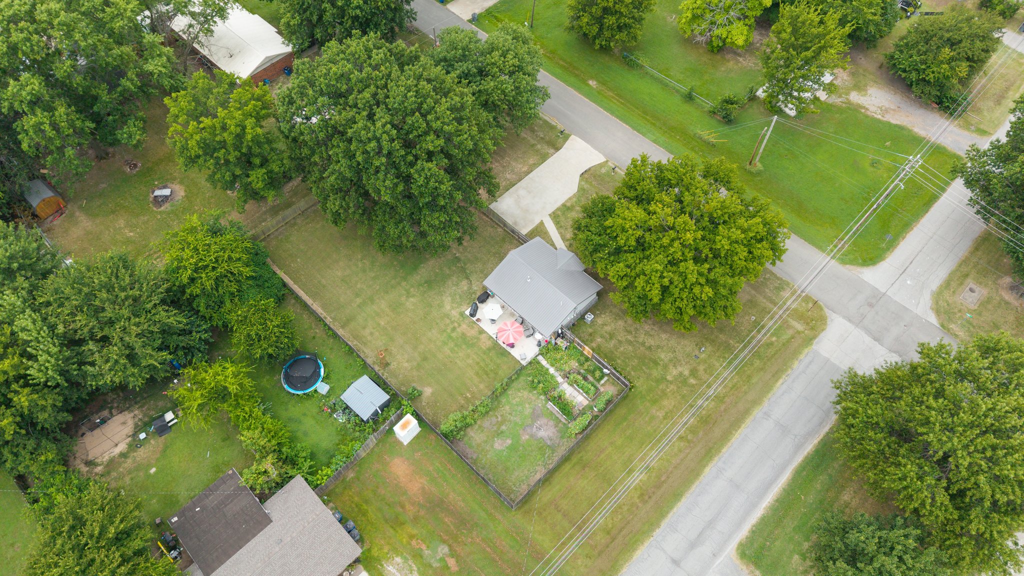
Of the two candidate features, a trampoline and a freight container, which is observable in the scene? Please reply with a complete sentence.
Of the two, only a trampoline appears.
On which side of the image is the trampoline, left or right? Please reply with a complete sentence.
The trampoline is on the left side of the image.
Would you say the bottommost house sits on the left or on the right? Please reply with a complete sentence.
The bottommost house is on the left side of the image.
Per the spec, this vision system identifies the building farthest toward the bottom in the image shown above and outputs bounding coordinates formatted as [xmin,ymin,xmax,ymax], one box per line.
[167,468,362,576]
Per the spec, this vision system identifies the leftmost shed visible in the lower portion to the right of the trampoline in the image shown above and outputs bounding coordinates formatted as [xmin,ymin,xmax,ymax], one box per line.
[340,375,390,422]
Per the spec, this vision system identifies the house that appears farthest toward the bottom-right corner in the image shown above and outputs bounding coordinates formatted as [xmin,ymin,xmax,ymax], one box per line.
[482,237,600,345]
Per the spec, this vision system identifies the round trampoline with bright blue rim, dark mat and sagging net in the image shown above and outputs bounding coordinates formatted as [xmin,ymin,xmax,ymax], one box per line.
[274,346,323,405]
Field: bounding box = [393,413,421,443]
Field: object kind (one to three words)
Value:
shed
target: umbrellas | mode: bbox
[483,302,503,322]
[492,319,524,347]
